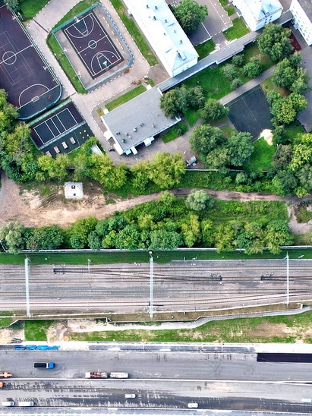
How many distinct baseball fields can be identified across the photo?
none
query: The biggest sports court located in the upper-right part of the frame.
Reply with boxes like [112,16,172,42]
[224,84,275,134]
